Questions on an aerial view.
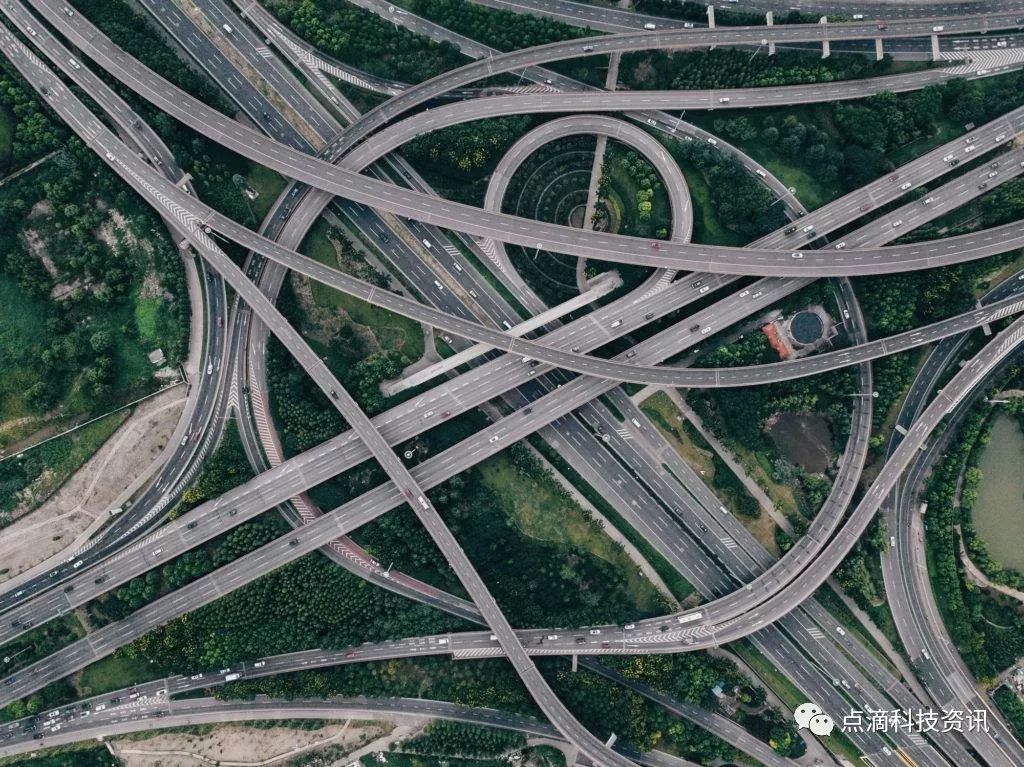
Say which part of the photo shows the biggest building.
right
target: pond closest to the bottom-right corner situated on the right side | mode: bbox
[972,406,1024,572]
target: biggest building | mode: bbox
[763,321,793,360]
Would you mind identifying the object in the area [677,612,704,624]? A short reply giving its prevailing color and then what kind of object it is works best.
white vehicle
